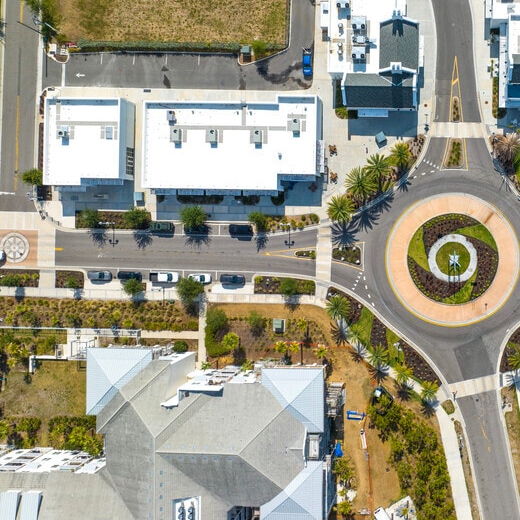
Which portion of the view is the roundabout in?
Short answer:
right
